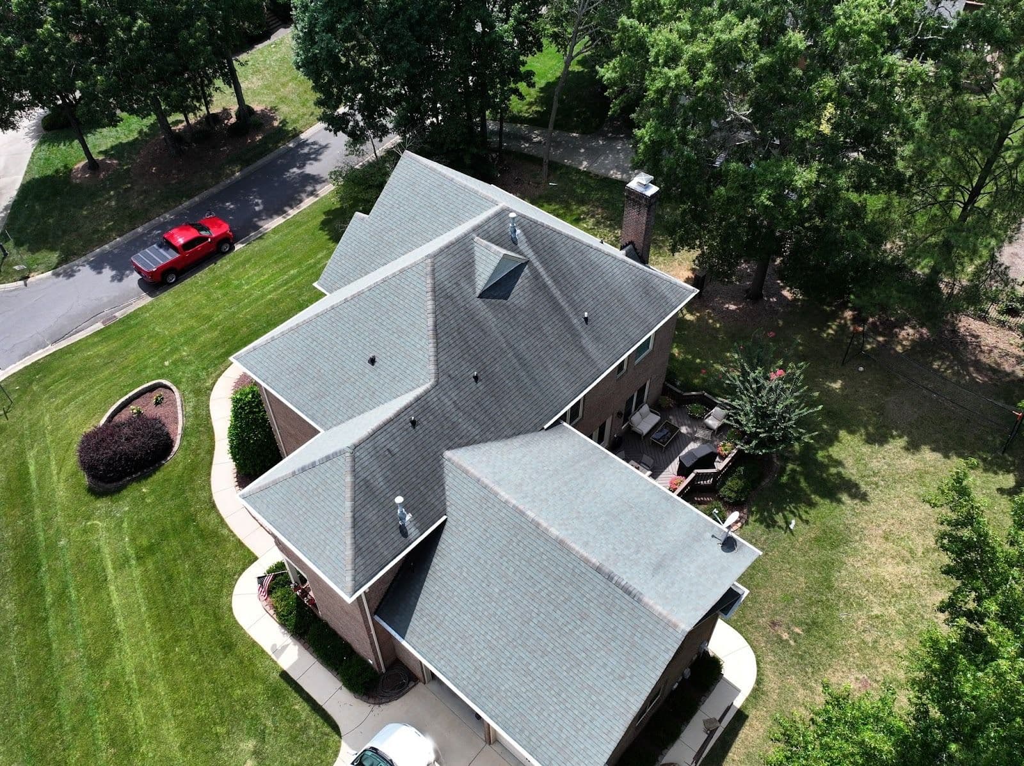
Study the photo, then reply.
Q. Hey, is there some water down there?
No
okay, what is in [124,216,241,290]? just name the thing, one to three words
truck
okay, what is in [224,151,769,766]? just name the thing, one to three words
house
